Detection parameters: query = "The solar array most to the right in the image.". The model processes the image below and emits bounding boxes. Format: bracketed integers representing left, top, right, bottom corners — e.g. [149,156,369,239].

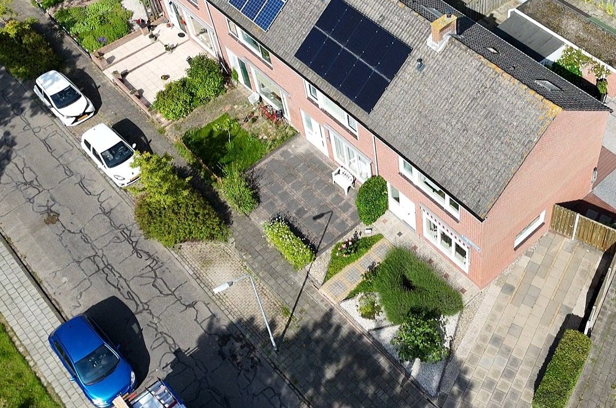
[292,0,410,112]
